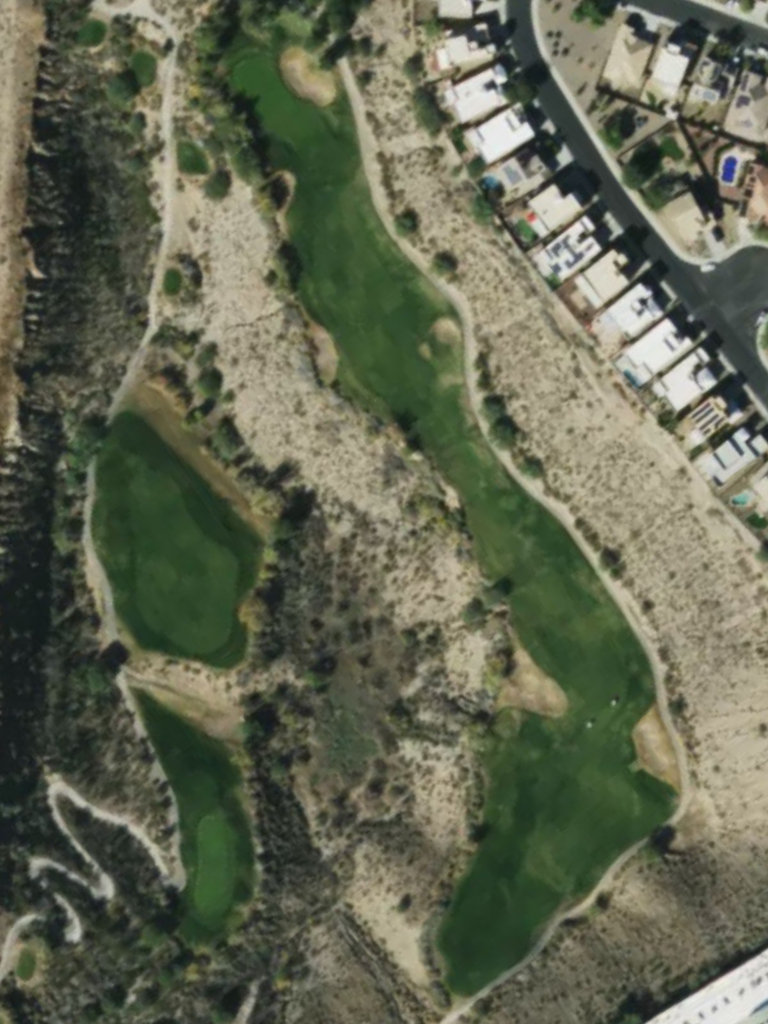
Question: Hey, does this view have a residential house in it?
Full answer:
Yes, looking at the shot, I can spot a residential house.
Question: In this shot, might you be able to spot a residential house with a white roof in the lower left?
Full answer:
No, looking in the lower left, there is no residential house with a white roof.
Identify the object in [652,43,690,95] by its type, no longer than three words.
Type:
house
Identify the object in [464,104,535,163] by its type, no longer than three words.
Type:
house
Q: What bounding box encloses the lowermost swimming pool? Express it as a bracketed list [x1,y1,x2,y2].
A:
[731,490,752,506]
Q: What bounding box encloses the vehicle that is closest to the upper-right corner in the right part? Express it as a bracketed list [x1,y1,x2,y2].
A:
[712,226,724,242]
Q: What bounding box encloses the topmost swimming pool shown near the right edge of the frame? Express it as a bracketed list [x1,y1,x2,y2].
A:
[721,154,739,183]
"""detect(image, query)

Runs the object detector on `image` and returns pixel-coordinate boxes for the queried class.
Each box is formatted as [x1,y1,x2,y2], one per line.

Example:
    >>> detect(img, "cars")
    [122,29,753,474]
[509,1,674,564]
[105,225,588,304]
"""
[756,310,768,325]
[700,264,715,271]
[712,226,724,242]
